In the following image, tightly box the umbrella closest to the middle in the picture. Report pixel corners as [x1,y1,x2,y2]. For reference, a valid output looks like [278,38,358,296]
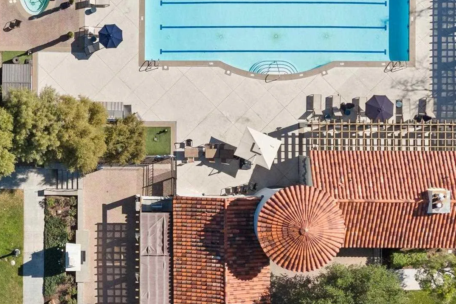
[234,127,281,172]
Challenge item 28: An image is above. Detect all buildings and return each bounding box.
[2,63,34,109]
[173,150,456,304]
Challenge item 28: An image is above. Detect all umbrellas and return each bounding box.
[234,127,281,172]
[365,95,393,122]
[98,25,122,48]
